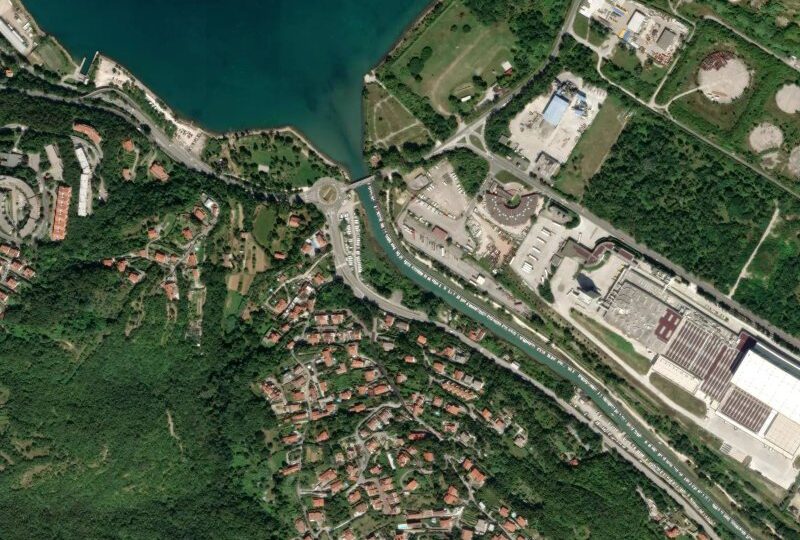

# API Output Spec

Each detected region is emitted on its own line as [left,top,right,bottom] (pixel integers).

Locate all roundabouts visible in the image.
[300,176,348,214]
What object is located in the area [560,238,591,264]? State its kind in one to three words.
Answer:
building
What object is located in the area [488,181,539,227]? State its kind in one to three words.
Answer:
building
